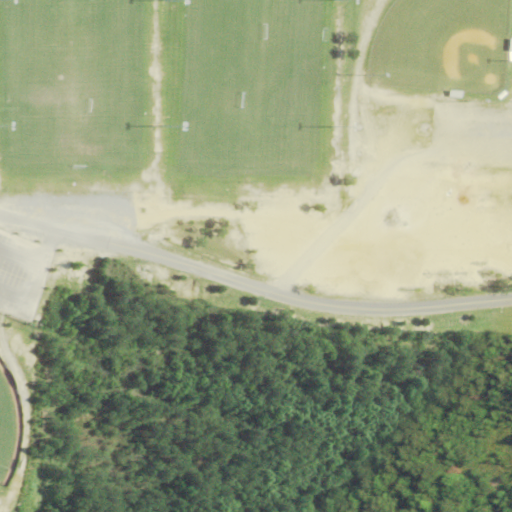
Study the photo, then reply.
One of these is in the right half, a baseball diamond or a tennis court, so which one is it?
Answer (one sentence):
What appears in the right half is a baseball diamond.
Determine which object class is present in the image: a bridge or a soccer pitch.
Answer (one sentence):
There is a soccer pitch in the scene.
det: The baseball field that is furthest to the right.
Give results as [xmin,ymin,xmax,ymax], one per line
[364,0,510,102]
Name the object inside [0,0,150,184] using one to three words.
soccer field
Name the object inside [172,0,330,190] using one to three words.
soccer field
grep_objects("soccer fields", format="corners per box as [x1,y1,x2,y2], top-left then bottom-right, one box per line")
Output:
[172,0,330,190]
[0,0,150,184]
